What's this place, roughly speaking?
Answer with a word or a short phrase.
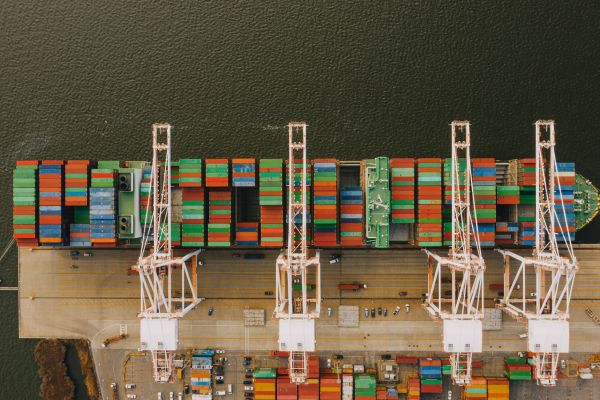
port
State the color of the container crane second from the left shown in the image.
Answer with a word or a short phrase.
white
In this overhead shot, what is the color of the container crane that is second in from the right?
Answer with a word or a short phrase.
white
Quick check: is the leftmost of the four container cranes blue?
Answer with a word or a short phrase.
No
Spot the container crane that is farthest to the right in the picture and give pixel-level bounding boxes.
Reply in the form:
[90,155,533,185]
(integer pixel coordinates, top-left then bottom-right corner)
[489,122,582,382]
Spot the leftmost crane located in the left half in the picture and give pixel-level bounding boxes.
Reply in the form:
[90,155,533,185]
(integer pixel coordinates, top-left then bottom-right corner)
[135,122,204,382]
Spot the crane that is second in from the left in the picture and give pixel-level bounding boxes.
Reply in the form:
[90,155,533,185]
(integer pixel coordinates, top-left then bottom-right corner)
[272,122,324,382]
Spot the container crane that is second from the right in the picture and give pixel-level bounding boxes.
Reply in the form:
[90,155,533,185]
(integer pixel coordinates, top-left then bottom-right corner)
[415,122,490,382]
